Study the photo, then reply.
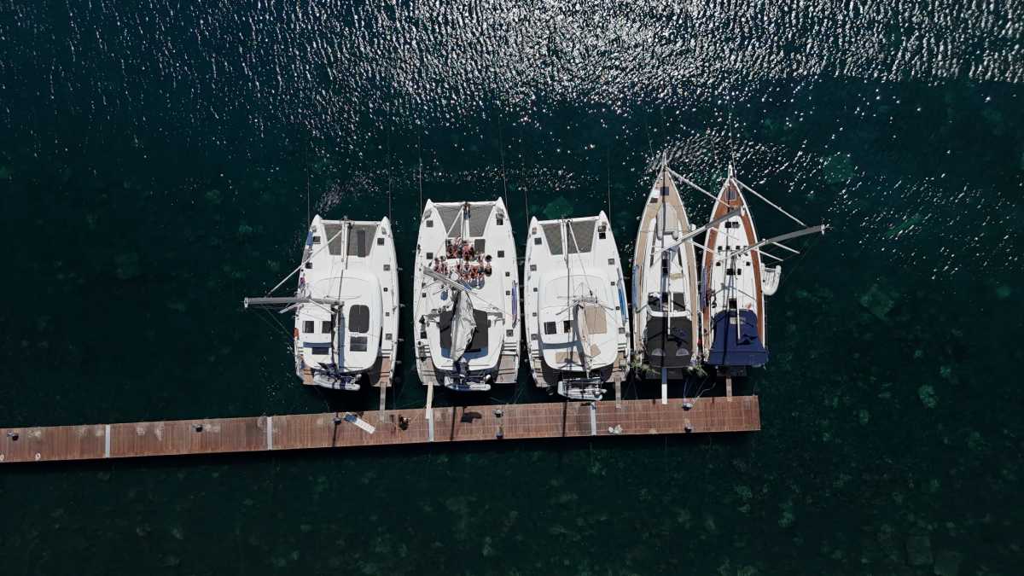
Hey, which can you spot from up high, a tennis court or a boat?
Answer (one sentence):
Visible in the photo is a boat.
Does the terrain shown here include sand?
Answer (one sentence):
No, the picture contains no sand.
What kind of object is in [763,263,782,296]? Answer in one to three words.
boat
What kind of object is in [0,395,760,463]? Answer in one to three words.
pier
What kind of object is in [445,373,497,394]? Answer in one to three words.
boat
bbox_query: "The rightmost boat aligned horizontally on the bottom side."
[560,377,612,402]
